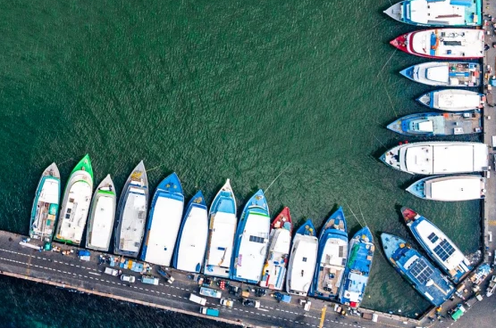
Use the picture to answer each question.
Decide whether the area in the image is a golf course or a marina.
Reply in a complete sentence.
This looks like a marina.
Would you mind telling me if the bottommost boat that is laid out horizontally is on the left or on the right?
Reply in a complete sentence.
The bottommost boat that is laid out horizontally sits on the right side.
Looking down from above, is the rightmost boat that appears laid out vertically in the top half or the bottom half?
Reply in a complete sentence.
The rightmost boat that appears laid out vertically sits in the bottom half of the picture.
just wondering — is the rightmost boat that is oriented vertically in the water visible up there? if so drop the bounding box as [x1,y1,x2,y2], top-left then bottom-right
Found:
[337,226,371,308]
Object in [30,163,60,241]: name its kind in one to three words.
boat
